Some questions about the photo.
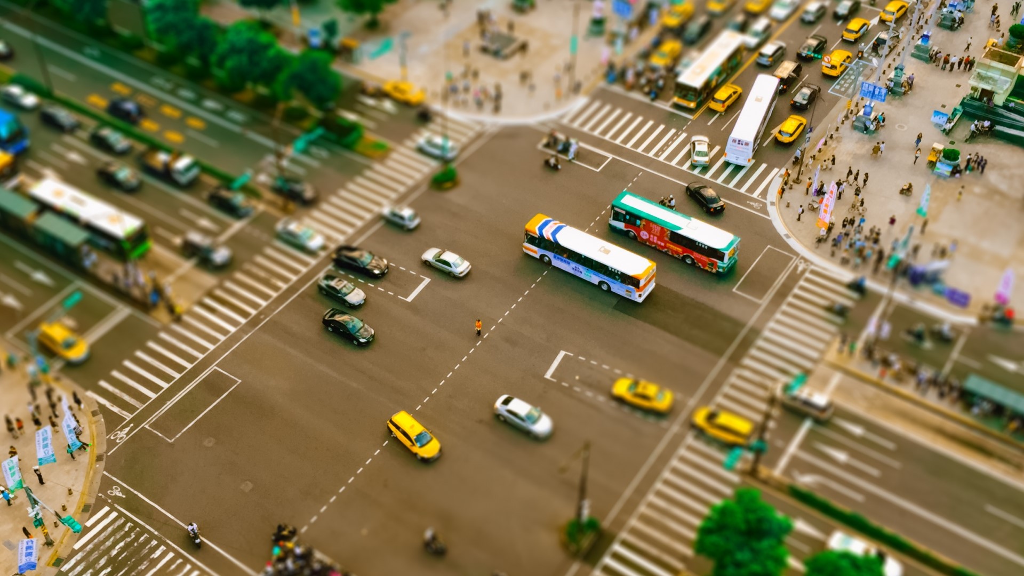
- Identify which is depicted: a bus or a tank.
bus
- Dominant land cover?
paved ground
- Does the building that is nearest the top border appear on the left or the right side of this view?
right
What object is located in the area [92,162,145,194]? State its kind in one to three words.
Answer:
car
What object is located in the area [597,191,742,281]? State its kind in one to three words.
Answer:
bus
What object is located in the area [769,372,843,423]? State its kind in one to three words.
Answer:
vehicle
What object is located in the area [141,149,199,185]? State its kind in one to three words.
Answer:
truck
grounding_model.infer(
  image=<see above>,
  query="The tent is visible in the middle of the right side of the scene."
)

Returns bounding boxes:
[903,251,942,292]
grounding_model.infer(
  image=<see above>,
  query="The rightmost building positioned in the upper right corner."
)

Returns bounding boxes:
[959,42,1024,113]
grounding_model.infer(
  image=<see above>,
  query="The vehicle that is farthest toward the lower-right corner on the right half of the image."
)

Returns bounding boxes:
[828,527,912,576]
